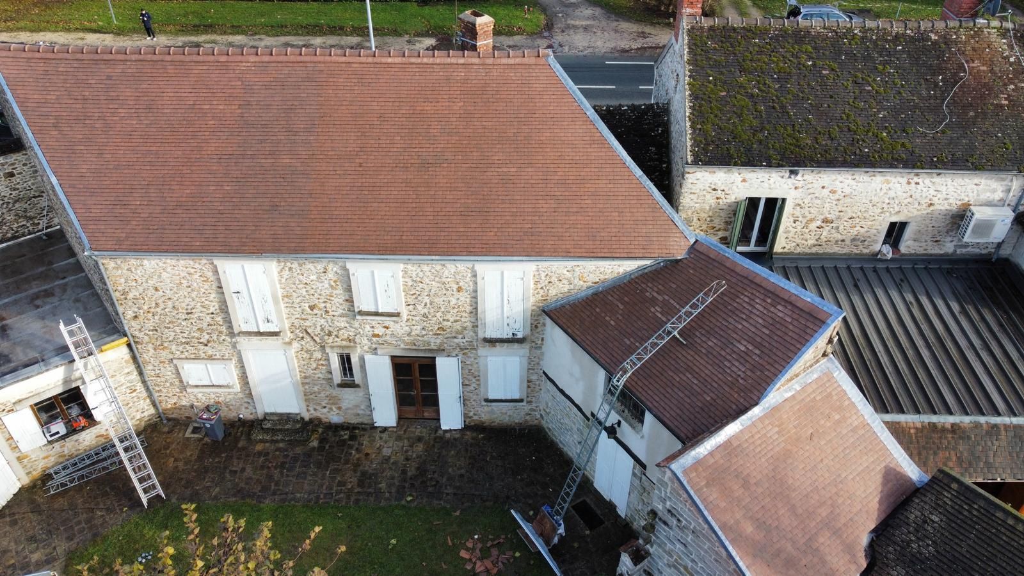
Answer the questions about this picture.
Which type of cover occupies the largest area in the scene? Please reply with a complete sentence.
The bulk of the photo consists of buildings.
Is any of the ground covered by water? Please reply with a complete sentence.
No, the picture contains no water.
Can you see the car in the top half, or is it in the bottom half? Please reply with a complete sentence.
The car is in the top half of the image.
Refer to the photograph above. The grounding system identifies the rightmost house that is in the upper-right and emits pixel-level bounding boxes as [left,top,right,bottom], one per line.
[652,0,1024,269]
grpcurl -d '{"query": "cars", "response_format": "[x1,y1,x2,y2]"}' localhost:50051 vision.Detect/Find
[786,0,860,20]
